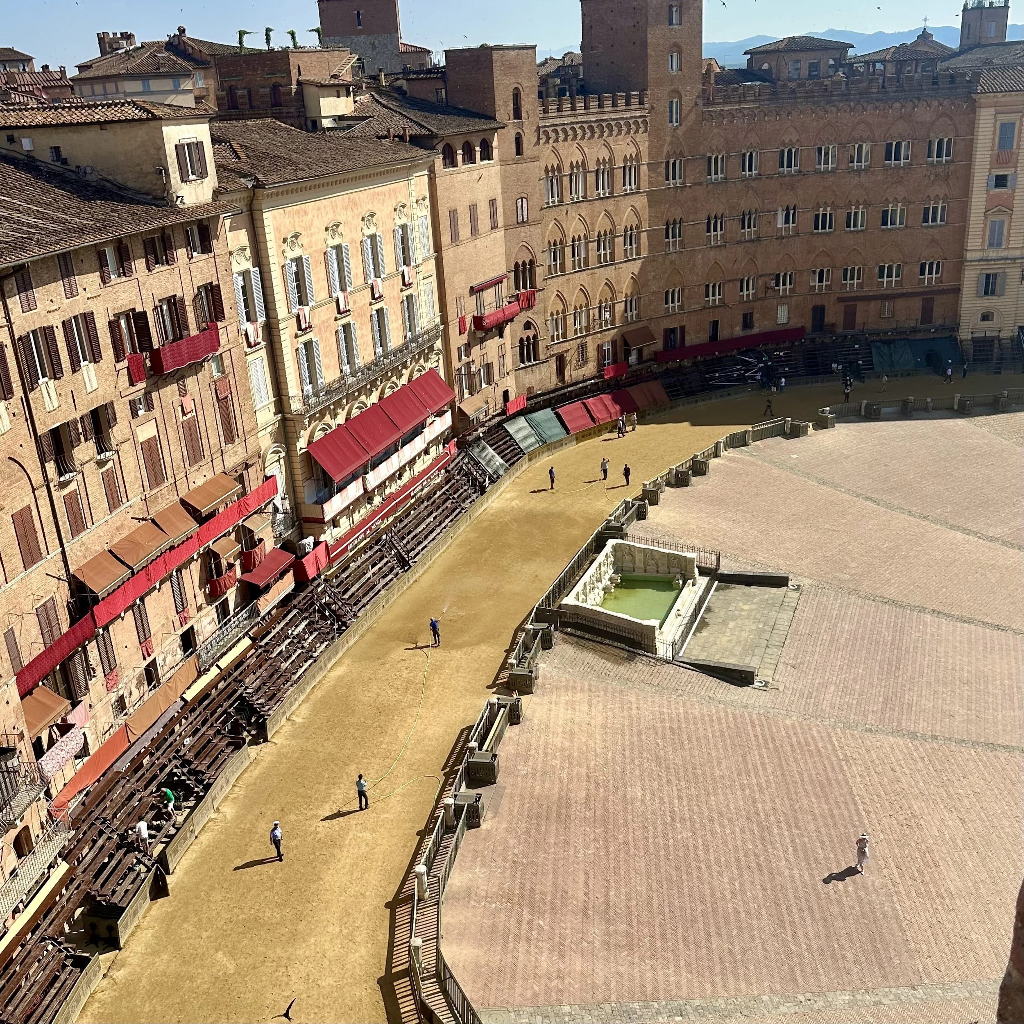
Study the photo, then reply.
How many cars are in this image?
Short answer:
0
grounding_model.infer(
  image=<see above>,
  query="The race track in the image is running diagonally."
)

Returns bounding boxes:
[34,371,1024,1024]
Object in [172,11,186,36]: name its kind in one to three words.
chimney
